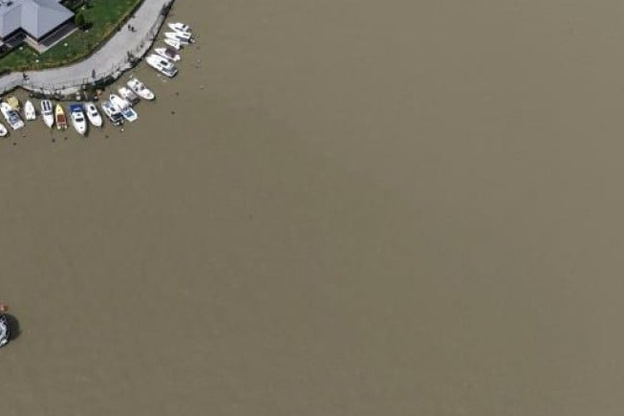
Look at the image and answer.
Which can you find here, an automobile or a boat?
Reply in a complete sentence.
Of the two, only a boat appears.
